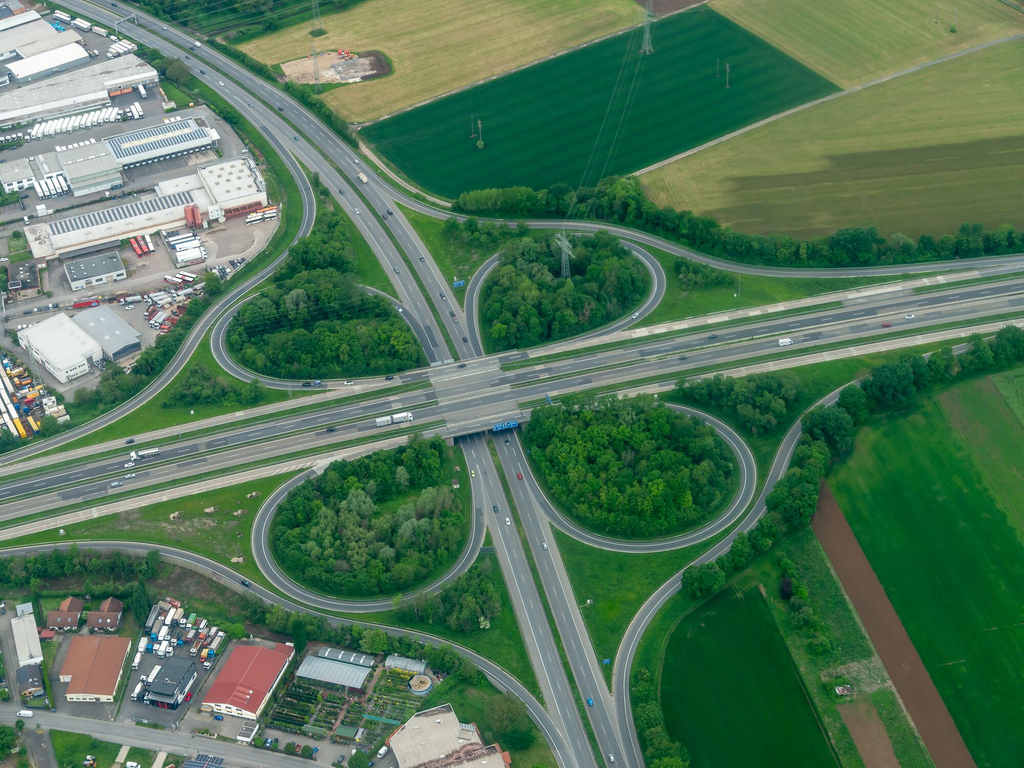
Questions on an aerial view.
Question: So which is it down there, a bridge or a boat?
bridge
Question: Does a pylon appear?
Yes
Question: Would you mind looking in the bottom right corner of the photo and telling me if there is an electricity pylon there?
No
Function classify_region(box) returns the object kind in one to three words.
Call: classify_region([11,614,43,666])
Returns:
shed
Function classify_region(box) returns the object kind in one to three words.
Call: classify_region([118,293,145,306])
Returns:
vehicle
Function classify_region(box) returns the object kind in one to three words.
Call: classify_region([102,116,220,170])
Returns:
building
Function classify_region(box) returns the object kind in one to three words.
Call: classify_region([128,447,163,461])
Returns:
vehicle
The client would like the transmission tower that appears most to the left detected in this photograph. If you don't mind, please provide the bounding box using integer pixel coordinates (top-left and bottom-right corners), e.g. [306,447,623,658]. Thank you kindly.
[23,333,47,407]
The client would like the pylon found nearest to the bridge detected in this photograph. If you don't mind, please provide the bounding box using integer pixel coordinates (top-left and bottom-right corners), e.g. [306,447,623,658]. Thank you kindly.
[548,228,582,281]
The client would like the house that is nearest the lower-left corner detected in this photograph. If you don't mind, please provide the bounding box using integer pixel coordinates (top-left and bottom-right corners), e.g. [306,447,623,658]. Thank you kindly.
[16,662,45,702]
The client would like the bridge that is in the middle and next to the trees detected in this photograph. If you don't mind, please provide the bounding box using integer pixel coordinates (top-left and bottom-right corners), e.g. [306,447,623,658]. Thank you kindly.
[413,347,527,442]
